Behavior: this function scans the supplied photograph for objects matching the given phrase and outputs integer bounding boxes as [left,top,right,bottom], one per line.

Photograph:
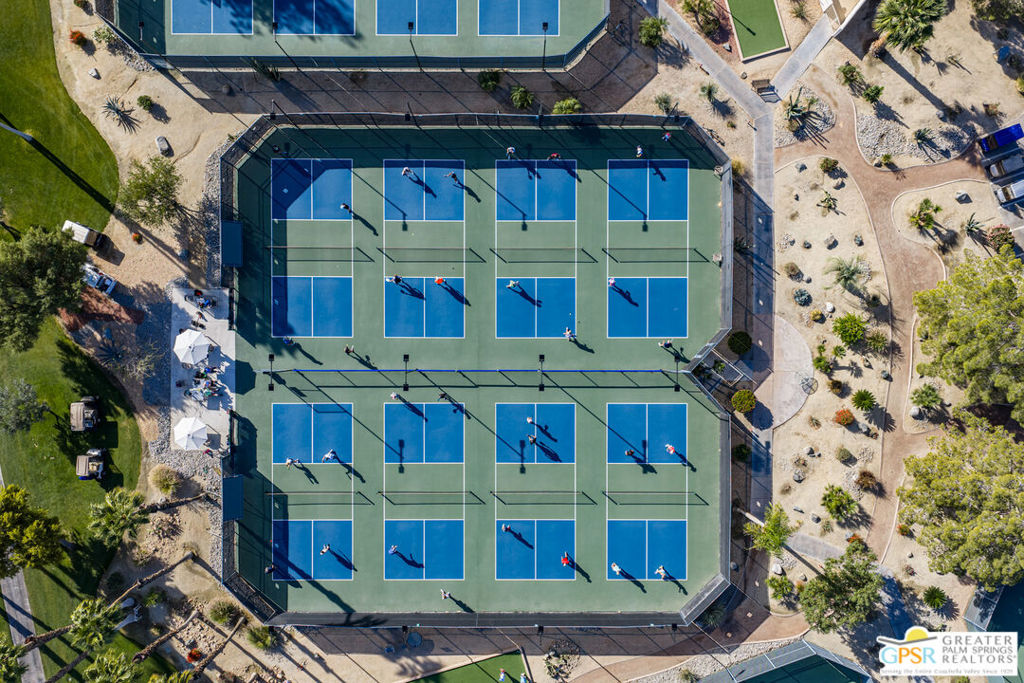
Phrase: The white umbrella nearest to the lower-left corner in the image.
[172,414,209,450]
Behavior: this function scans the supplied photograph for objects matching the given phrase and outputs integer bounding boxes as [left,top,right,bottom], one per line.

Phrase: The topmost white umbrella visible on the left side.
[172,325,213,366]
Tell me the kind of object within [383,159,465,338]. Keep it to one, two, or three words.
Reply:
sports court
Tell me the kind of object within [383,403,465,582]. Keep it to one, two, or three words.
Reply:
sports court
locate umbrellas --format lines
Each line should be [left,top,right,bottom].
[172,414,209,450]
[172,325,213,366]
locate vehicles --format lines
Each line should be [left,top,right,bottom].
[991,181,1024,208]
[71,398,98,431]
[82,265,124,297]
[63,222,108,251]
[984,152,1024,182]
[976,123,1023,154]
[77,446,104,480]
